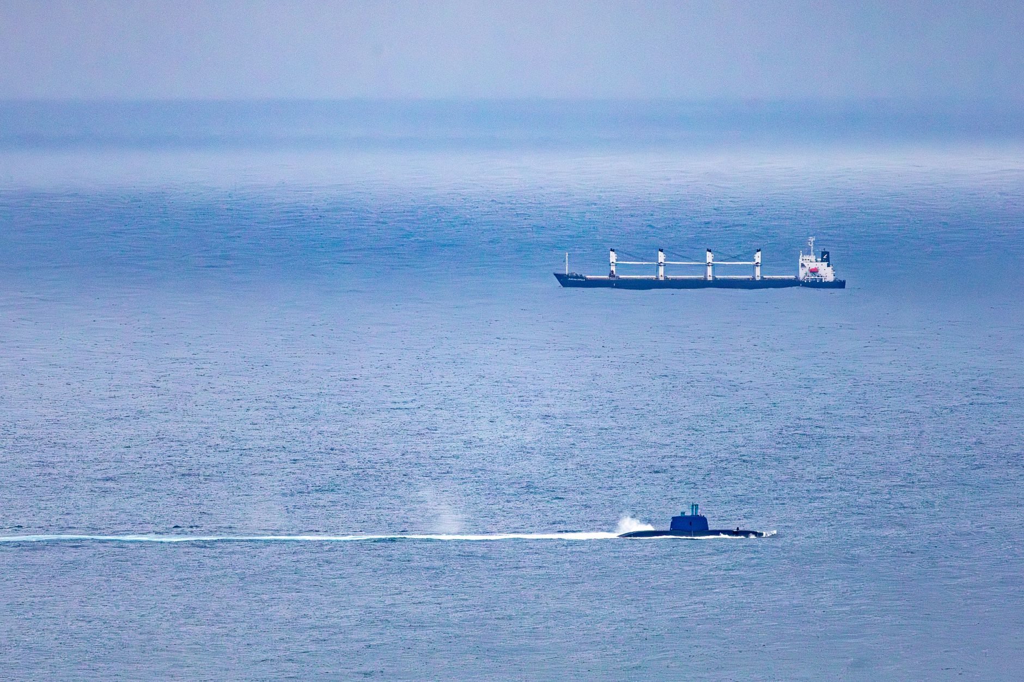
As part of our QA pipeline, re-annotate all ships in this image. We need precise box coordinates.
[620,502,765,537]
[554,237,846,289]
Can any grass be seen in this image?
No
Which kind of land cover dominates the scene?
water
